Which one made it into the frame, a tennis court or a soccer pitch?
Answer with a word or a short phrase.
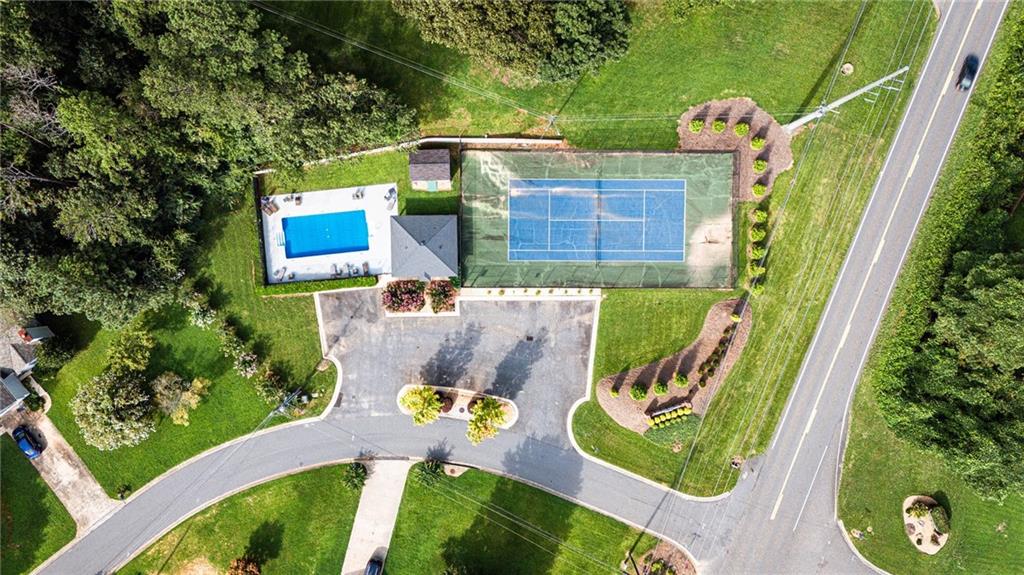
tennis court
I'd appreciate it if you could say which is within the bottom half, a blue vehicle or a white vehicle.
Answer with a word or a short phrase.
blue vehicle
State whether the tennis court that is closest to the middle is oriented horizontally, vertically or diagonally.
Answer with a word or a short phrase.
horizontally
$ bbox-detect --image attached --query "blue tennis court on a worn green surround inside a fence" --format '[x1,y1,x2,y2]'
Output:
[461,152,732,288]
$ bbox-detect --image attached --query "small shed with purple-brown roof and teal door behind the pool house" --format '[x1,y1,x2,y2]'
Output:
[408,149,451,191]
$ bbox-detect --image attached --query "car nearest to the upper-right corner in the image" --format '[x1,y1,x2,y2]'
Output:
[952,53,979,92]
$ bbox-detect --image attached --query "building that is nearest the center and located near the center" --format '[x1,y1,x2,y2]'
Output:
[391,215,458,281]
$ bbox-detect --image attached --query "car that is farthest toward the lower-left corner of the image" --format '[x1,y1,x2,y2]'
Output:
[13,425,41,460]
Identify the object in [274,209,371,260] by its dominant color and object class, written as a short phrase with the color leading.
blue swimming pool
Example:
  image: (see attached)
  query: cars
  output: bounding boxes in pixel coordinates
[365,559,382,575]
[952,53,979,92]
[13,425,41,460]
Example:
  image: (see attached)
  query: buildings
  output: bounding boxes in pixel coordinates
[0,312,67,414]
[408,149,451,191]
[391,215,458,281]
